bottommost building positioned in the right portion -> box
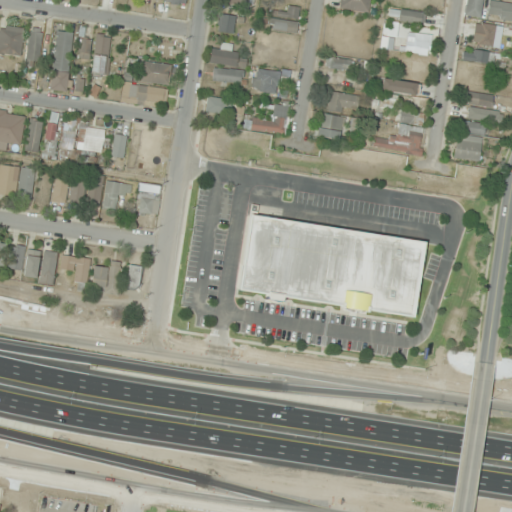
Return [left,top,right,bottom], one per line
[242,214,429,318]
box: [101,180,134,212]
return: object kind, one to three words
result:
house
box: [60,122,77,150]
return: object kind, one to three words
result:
house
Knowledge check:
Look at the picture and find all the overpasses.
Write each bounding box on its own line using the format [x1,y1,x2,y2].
[454,362,498,512]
